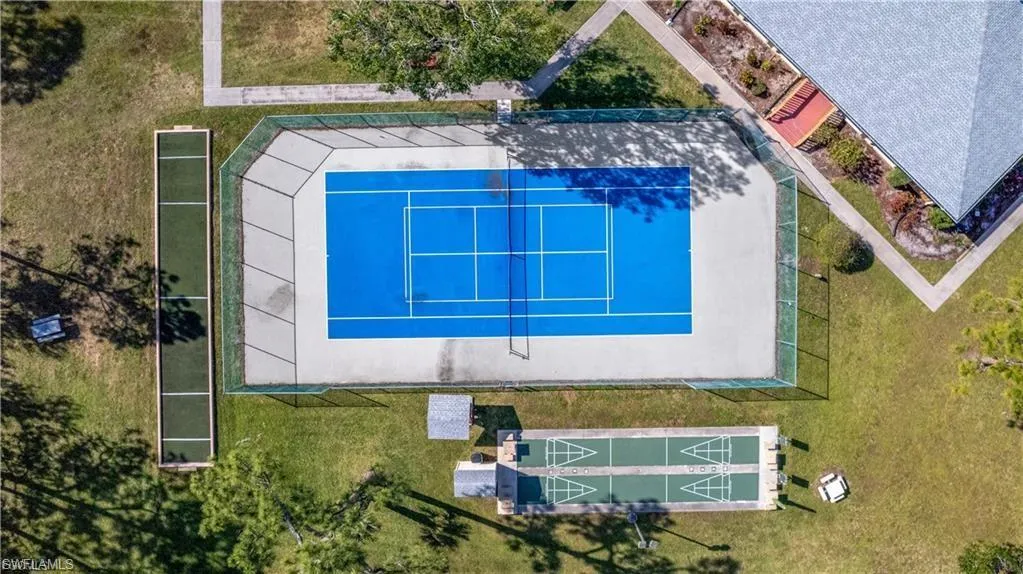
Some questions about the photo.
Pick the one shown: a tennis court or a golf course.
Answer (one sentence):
Of the two, only a tennis court appears.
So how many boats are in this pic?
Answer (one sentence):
No boats are visible.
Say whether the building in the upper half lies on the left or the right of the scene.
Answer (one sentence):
The building in the upper half sits on the right side.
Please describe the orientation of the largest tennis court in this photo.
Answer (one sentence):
In this picture, the largest tennis court lies from left to right.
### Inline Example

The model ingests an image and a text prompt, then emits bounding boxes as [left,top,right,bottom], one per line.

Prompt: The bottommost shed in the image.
[453,460,498,497]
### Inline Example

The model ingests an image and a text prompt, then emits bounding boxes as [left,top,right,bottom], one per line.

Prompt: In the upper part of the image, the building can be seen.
[726,0,1023,224]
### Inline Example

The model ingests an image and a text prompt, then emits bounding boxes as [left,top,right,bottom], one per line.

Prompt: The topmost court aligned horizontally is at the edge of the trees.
[245,124,775,383]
